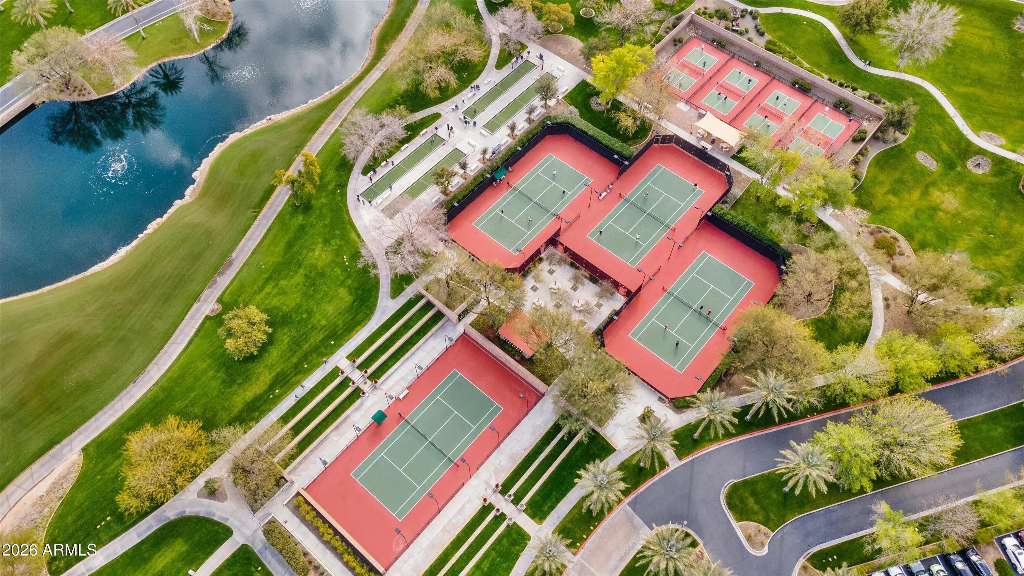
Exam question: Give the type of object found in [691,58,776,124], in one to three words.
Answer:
sports court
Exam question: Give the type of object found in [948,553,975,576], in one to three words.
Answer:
car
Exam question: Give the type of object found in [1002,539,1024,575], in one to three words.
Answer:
car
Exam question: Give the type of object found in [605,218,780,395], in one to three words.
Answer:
tennis court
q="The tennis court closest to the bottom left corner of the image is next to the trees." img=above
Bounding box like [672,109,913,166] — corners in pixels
[304,332,544,569]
